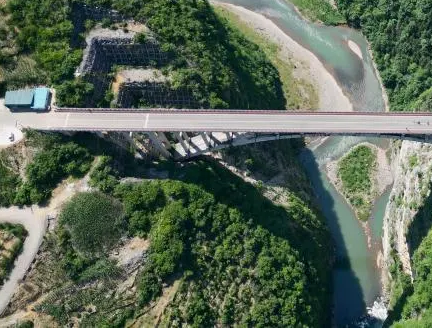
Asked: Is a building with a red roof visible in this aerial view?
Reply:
No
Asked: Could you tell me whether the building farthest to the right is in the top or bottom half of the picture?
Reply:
top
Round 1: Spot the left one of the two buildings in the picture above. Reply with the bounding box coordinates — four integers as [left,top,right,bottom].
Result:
[4,90,33,107]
